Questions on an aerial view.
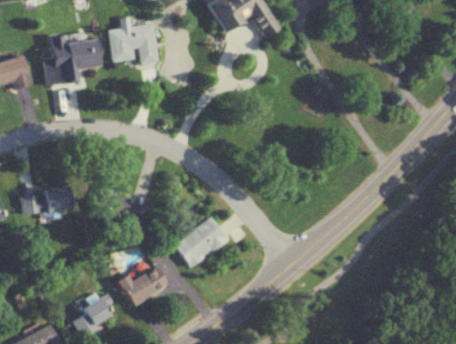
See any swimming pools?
Yes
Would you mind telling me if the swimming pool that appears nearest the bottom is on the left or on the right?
left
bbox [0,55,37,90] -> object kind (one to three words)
house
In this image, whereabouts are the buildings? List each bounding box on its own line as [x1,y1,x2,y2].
[108,16,160,66]
[0,200,10,225]
[178,218,233,267]
[43,37,104,87]
[0,55,37,90]
[116,266,170,311]
[14,322,60,344]
[206,0,284,37]
[75,290,120,333]
[22,198,41,214]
